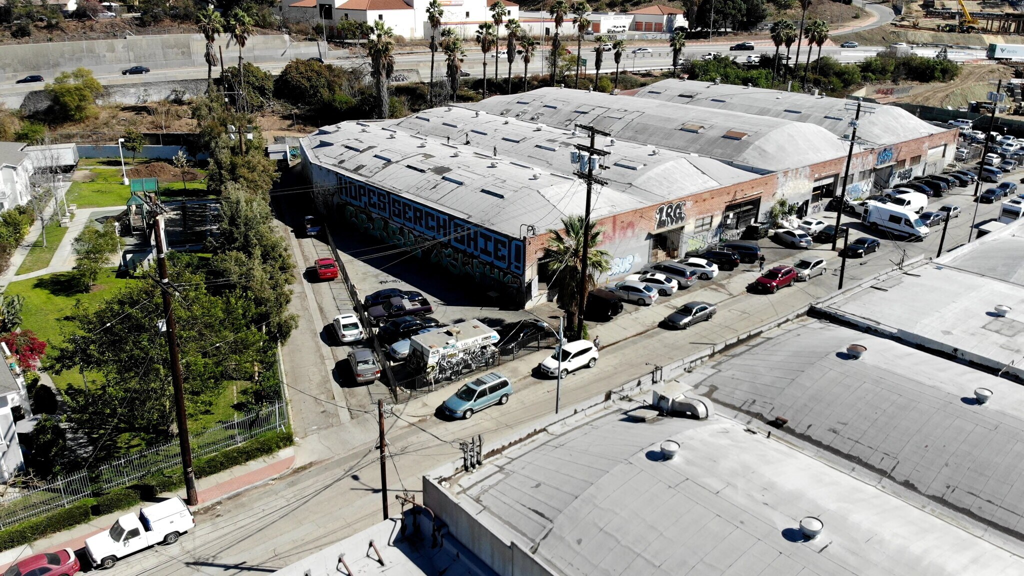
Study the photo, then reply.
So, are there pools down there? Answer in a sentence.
No, the frame has no pool in it.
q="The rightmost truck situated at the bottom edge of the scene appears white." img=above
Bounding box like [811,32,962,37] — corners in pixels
[79,489,192,568]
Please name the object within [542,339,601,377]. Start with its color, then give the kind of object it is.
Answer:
white car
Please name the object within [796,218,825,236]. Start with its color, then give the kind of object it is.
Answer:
white car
